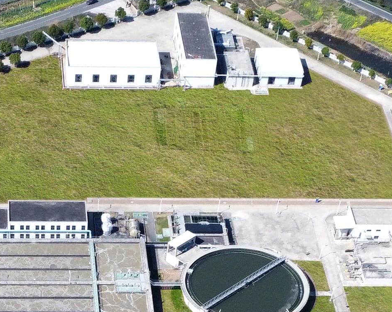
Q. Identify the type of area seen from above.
industrial area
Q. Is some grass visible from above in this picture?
Yes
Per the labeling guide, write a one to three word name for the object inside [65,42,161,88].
building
